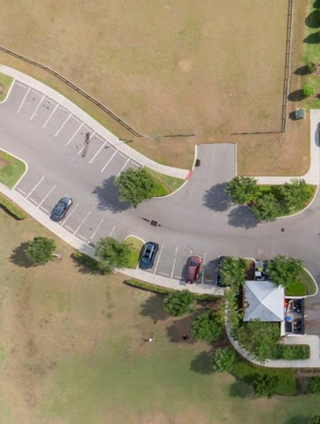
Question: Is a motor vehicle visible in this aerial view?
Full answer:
Yes, the image includes a motor vehicle.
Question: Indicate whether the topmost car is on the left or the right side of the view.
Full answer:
The topmost car sits on the left side.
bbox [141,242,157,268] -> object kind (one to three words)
car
